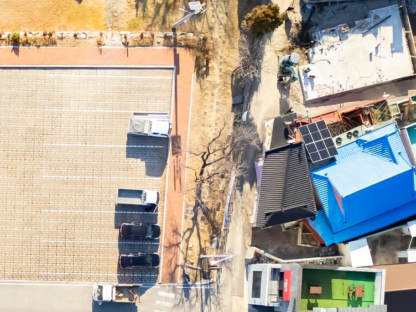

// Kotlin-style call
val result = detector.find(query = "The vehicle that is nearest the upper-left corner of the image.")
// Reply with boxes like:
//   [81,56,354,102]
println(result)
[126,115,173,135]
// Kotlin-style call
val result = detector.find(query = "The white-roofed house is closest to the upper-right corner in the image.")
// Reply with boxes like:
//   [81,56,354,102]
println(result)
[286,5,413,104]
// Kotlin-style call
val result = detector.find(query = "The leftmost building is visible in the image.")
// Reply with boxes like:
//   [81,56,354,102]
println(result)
[247,113,317,228]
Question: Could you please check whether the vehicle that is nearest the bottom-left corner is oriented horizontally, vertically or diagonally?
horizontally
